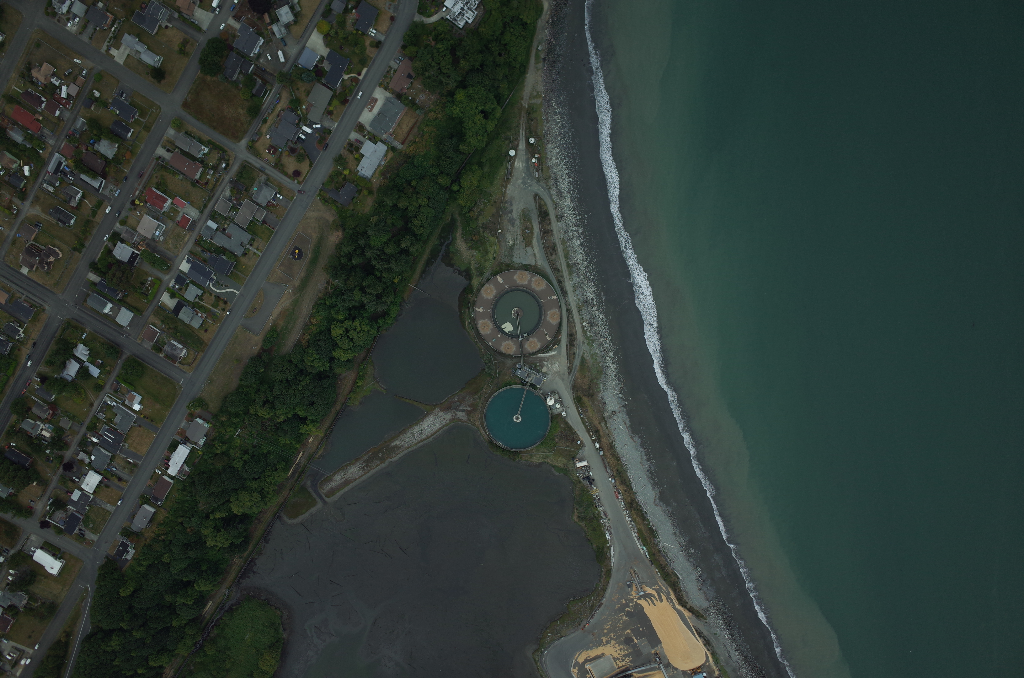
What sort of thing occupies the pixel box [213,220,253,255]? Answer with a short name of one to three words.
house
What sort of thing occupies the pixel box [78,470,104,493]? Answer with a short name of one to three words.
house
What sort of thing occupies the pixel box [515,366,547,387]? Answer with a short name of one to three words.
building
